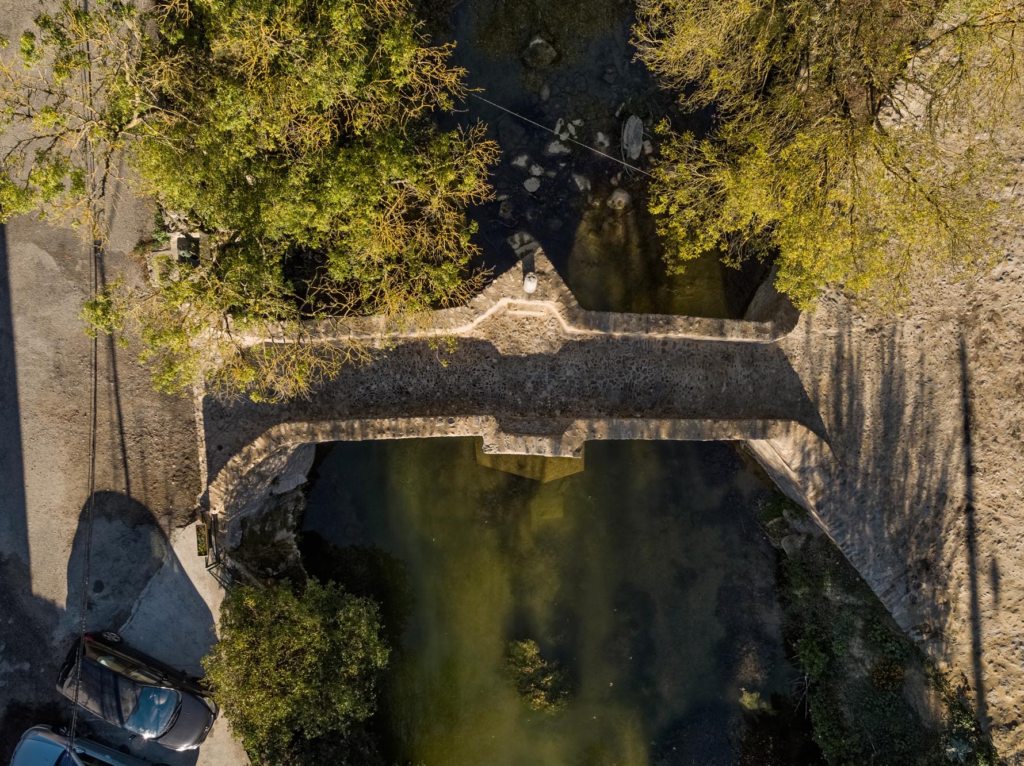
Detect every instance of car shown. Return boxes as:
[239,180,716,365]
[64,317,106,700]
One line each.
[51,628,221,753]
[0,719,160,766]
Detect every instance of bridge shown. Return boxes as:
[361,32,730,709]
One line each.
[195,231,843,520]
